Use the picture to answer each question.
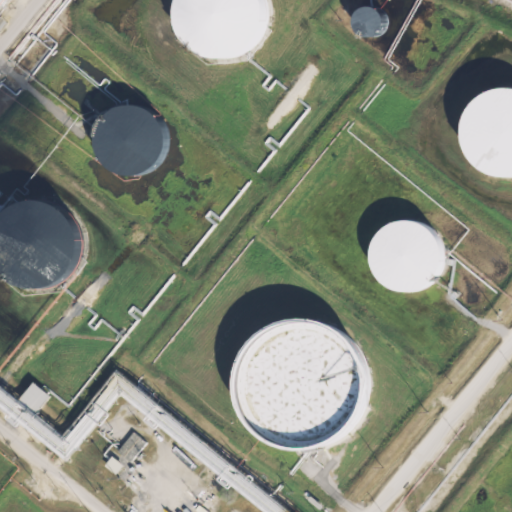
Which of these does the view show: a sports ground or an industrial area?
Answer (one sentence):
It's an industrial area.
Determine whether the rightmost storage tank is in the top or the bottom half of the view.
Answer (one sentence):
Seen from above, the rightmost storage tank lies in the top half of the view.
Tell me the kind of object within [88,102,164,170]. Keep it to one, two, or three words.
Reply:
storage tank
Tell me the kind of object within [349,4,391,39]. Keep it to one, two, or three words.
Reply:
storage tank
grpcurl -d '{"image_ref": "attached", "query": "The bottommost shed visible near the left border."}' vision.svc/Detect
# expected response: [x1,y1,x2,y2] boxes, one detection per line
[20,382,53,412]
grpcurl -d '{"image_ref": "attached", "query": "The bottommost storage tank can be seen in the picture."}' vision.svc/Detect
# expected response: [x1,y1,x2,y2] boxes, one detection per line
[228,317,374,454]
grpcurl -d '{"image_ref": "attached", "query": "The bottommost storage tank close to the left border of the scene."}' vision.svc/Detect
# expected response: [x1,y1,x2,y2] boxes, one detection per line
[0,199,84,290]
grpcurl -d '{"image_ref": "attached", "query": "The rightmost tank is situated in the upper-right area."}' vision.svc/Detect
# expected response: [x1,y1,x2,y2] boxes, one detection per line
[458,85,512,180]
